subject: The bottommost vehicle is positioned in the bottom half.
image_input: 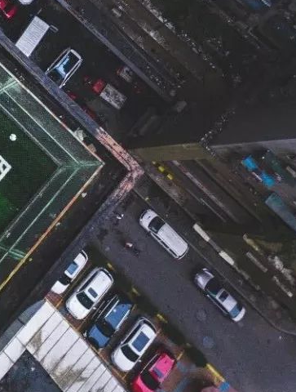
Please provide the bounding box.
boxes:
[133,346,177,392]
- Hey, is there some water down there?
No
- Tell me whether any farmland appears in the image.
No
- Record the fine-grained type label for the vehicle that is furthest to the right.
automobile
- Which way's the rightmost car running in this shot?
on a diagonal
